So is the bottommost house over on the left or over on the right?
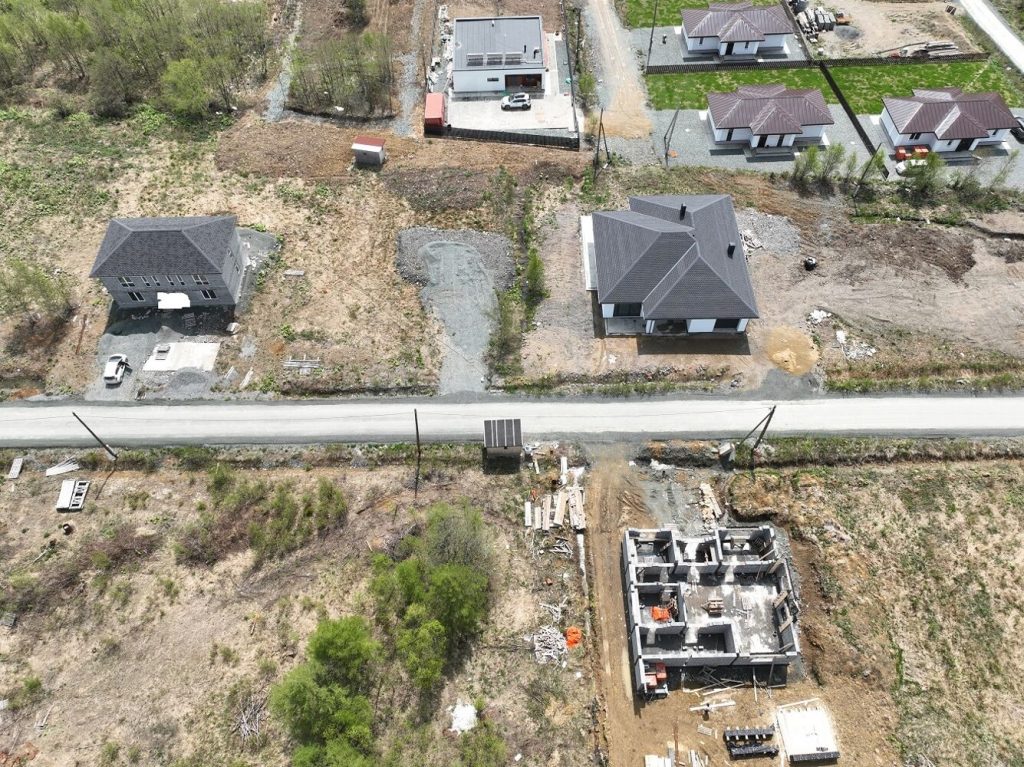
right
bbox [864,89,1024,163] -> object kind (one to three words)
house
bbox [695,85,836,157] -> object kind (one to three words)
house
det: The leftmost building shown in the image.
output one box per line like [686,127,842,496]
[87,215,252,311]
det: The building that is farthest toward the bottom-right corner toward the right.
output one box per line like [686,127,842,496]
[623,526,801,695]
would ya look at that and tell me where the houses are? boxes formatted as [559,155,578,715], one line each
[695,85,836,157]
[671,3,794,63]
[584,194,765,337]
[452,15,545,97]
[864,89,1024,163]
[623,526,801,695]
[87,215,252,311]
